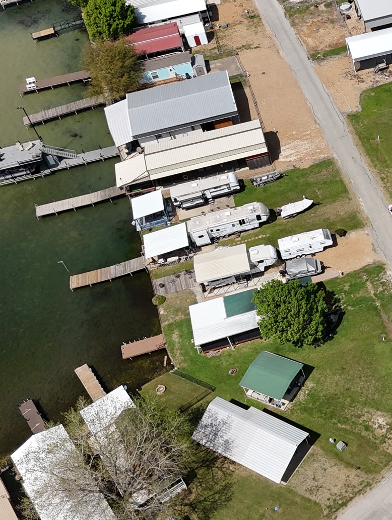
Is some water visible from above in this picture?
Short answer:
Yes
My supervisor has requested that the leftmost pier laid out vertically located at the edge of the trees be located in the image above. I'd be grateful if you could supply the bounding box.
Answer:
[21,397,43,438]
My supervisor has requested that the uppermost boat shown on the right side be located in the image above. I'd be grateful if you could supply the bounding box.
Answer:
[250,172,279,185]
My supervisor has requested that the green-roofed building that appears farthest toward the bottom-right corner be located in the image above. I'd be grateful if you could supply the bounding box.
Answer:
[241,351,306,410]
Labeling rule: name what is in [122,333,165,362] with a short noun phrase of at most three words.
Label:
pier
